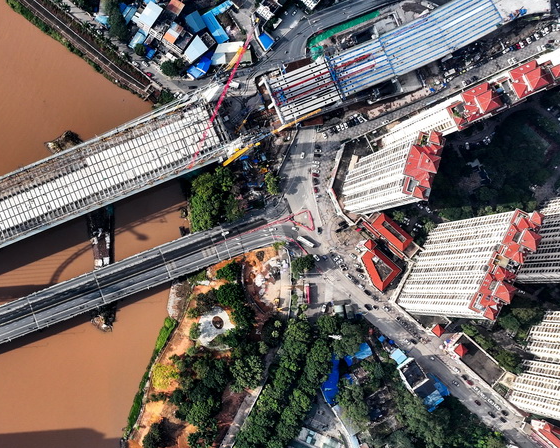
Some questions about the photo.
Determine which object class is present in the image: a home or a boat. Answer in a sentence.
Of the two, only a home appears.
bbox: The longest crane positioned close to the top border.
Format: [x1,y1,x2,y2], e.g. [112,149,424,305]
[190,11,260,168]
